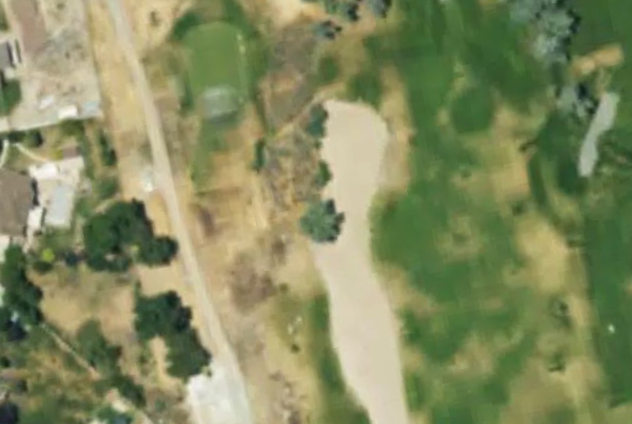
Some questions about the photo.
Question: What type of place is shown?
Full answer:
It's a golf course.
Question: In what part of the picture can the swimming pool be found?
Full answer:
You can find the swimming pool in the left area of the picture.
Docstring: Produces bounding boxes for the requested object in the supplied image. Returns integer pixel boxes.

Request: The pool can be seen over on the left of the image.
[49,184,72,219]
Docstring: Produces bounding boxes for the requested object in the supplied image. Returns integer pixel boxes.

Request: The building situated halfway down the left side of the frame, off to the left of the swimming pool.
[0,168,34,240]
